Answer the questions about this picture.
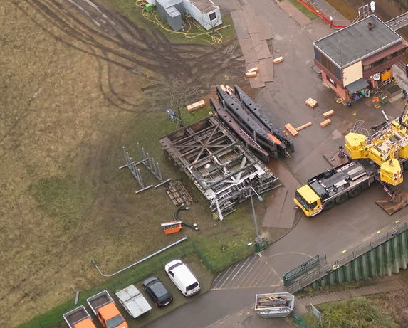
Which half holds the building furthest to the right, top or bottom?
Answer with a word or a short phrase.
top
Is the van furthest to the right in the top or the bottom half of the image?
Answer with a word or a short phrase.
bottom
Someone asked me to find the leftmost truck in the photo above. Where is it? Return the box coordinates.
[60,302,100,328]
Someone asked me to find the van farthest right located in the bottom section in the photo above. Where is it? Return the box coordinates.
[165,259,203,301]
